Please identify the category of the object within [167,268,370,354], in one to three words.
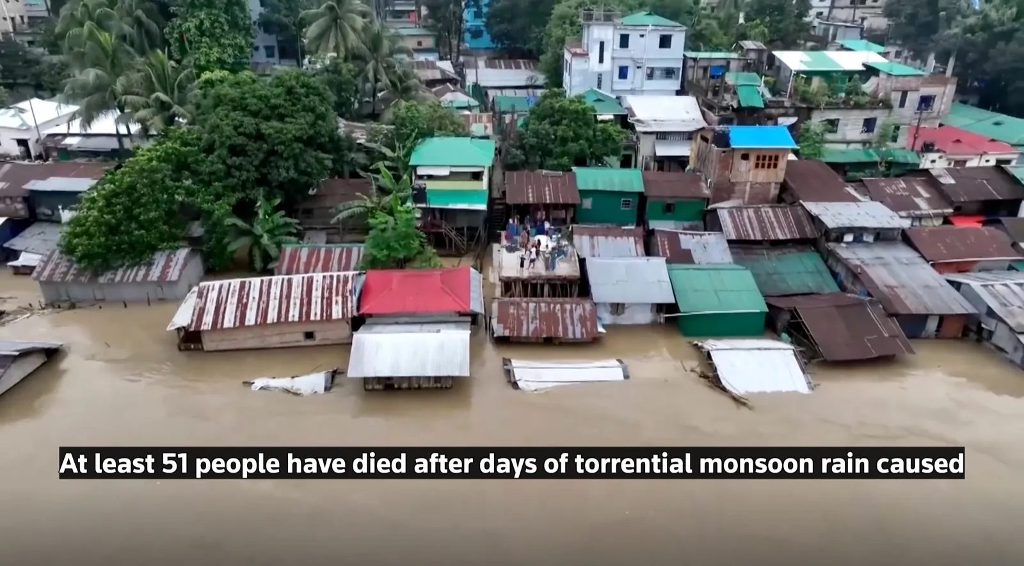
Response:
house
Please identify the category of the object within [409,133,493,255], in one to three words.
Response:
house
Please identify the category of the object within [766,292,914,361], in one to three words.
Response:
building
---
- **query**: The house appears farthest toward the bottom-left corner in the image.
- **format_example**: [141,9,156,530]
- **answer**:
[0,335,62,387]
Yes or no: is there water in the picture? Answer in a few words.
Yes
